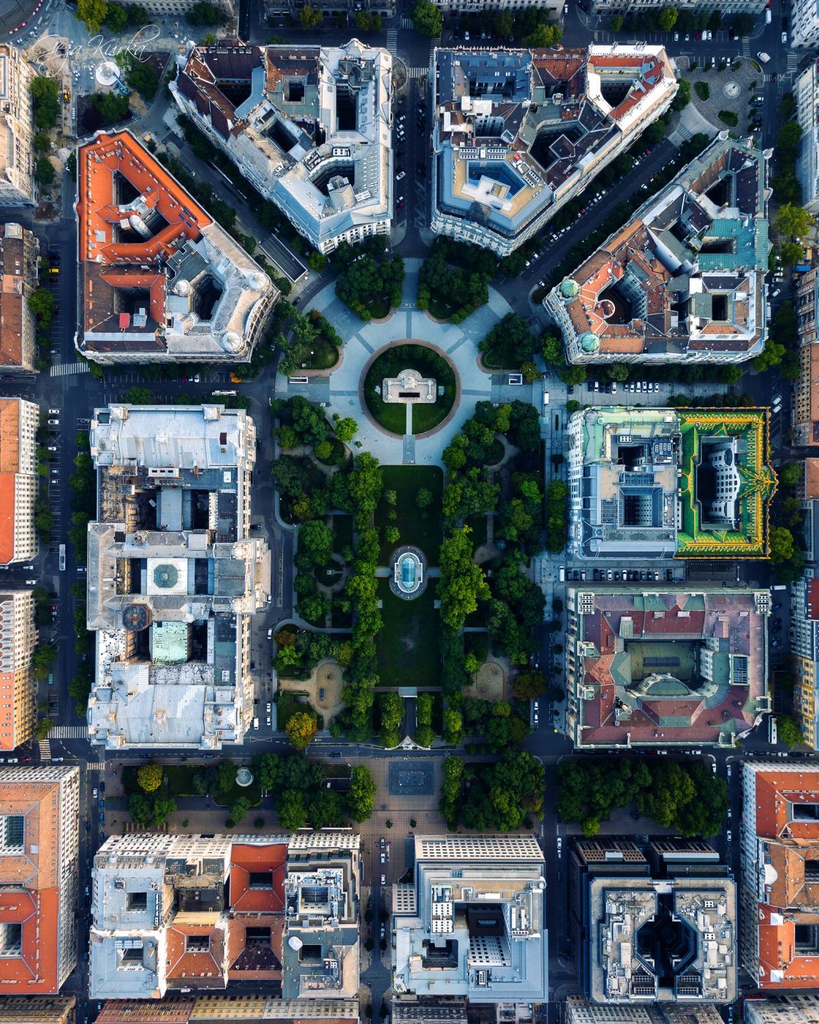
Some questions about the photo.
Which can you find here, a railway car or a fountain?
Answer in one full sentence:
It is a fountain that can be seen here.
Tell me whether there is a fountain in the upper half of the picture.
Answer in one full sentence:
Yes, a fountain shows up in the upper half of the picture.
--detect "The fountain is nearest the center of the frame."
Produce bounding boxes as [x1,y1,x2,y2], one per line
[390,546,428,600]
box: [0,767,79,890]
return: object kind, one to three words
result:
building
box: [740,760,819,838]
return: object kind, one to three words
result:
building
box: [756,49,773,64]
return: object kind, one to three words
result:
vehicle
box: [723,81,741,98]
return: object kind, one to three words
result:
fountain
